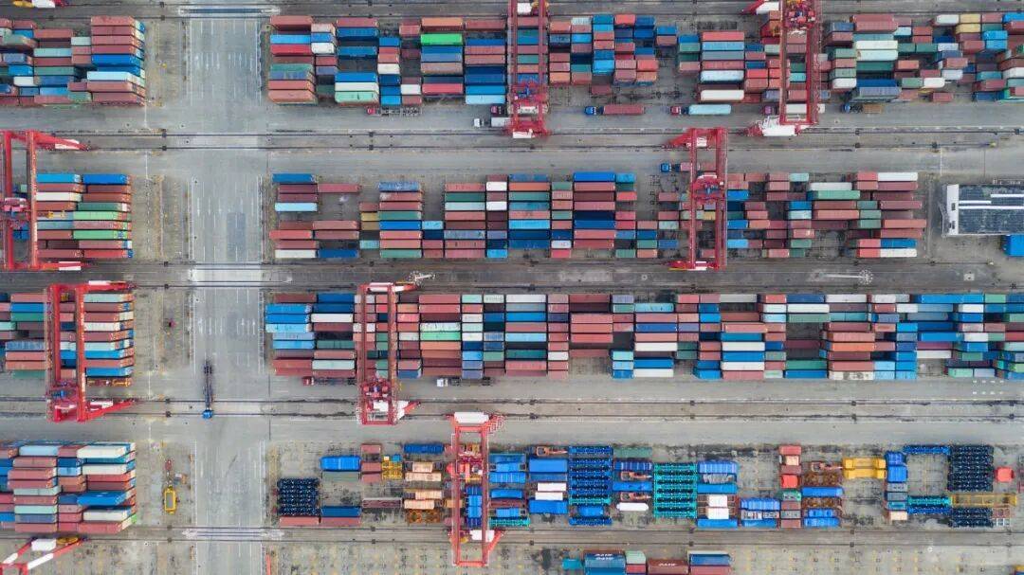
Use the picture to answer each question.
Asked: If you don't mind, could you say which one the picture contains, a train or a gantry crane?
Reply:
gantry crane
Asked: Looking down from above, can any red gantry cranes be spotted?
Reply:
Yes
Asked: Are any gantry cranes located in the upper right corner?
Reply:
Yes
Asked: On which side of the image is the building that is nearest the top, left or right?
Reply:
right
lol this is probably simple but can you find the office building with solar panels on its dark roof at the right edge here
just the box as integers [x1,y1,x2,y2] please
[932,184,1024,236]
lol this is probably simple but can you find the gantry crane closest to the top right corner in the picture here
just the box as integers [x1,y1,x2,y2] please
[740,0,818,139]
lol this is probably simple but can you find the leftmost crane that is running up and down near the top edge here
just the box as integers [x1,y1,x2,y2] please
[494,0,560,139]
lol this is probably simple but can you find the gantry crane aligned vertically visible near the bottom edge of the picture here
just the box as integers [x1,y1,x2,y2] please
[442,413,508,569]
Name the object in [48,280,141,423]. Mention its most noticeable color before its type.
red container crane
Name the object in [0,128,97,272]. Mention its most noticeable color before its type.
red container crane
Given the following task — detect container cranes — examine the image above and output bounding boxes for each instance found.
[442,413,508,569]
[656,128,726,272]
[0,537,91,575]
[494,0,560,139]
[356,280,422,424]
[740,0,818,139]
[48,280,141,423]
[0,128,97,272]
